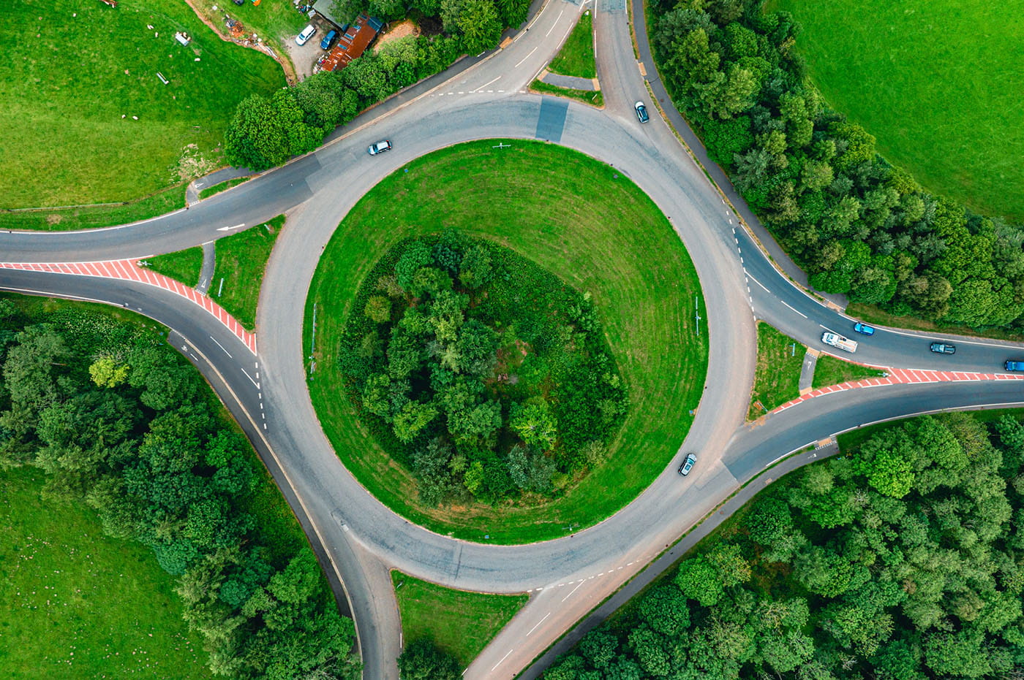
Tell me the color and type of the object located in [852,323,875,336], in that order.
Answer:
blue vehicle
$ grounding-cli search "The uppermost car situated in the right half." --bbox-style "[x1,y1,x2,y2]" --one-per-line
[634,101,649,124]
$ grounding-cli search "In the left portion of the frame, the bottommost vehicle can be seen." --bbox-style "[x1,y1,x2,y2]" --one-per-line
[368,139,393,155]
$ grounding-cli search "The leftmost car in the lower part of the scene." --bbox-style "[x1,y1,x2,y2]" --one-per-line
[678,452,696,478]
